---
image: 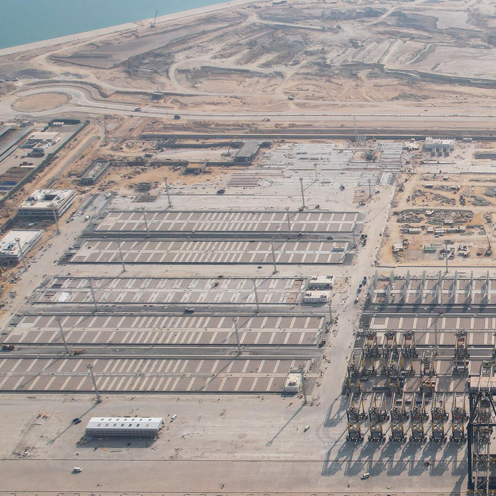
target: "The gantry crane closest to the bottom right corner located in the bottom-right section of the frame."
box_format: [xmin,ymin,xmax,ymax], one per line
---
[466,359,496,496]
